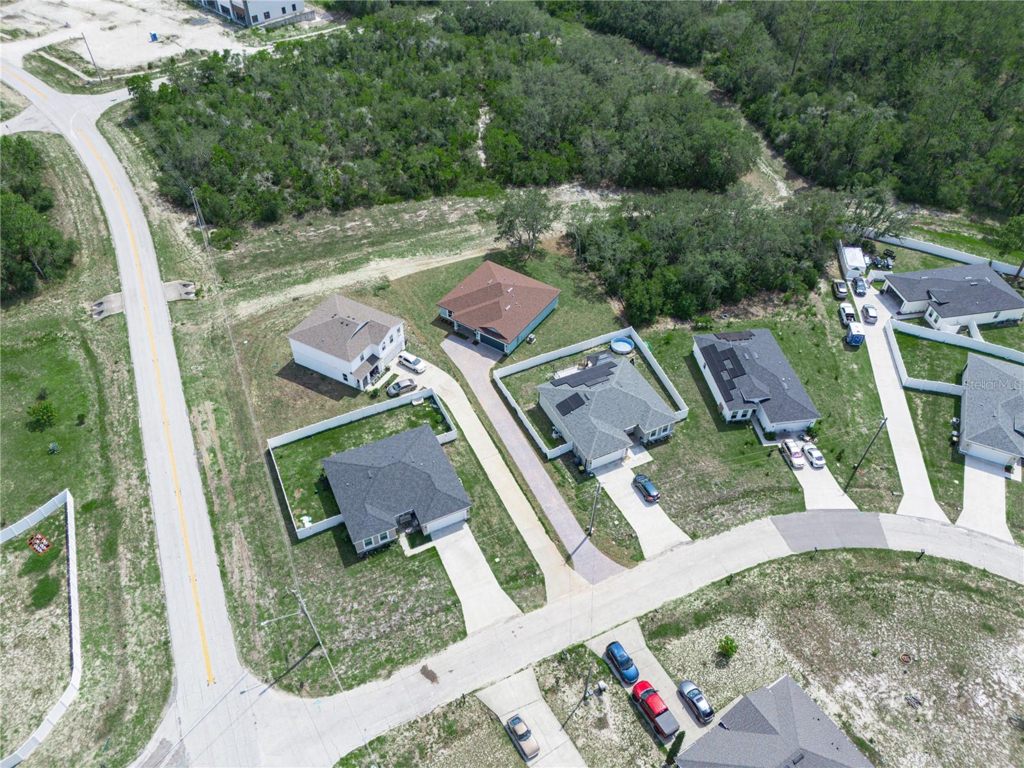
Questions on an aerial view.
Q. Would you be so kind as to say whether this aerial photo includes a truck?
Yes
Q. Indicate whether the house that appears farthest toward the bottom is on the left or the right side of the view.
right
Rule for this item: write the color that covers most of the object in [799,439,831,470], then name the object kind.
white car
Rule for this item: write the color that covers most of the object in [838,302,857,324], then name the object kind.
white vehicle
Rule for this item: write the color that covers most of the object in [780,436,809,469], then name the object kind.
white car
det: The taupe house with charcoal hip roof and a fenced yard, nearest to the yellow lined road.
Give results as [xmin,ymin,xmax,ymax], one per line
[323,424,472,552]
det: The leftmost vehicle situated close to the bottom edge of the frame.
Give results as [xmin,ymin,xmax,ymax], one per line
[502,709,542,767]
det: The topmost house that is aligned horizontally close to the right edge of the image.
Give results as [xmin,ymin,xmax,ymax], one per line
[881,264,1024,330]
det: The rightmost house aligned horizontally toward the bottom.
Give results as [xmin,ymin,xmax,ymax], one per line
[675,670,875,768]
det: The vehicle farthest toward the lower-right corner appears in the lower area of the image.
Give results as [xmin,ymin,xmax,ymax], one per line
[676,677,717,727]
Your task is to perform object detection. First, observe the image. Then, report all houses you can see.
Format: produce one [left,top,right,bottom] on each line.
[691,329,822,433]
[286,295,405,392]
[194,0,303,26]
[881,264,1024,330]
[675,670,875,768]
[437,261,563,355]
[323,424,472,552]
[535,356,679,471]
[959,352,1024,468]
